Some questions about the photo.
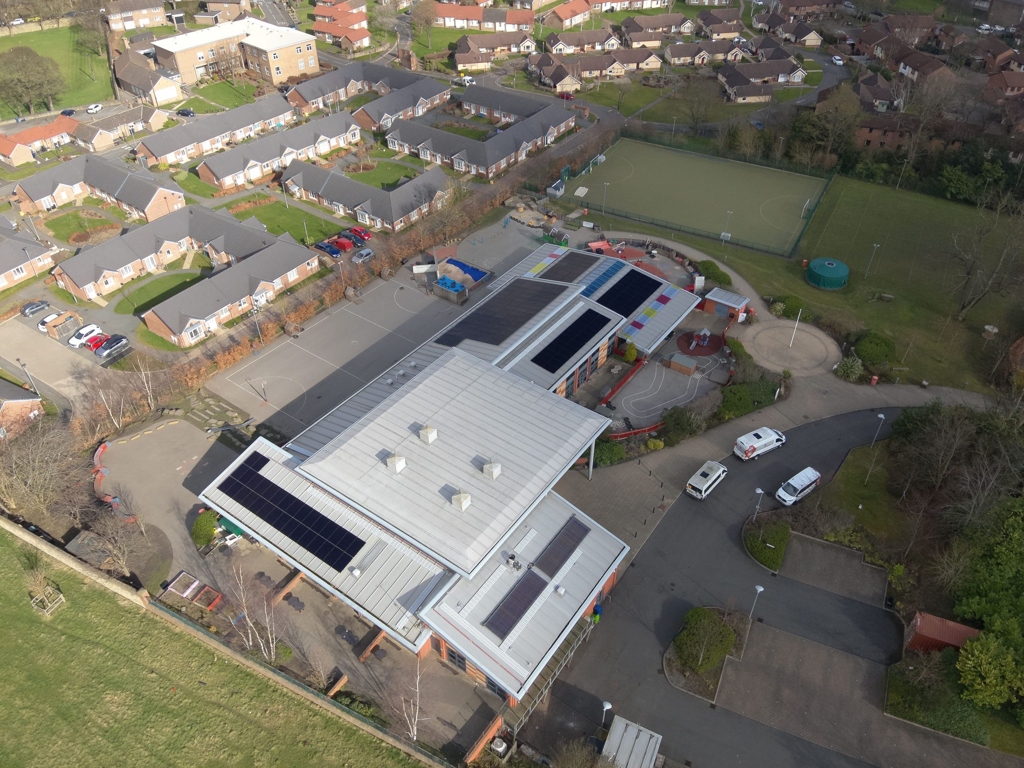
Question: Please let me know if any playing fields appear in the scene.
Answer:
Yes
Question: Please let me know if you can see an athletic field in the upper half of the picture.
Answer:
Yes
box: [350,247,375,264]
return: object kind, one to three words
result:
car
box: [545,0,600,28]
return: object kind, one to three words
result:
house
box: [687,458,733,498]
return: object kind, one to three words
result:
vehicle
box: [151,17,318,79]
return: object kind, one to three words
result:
building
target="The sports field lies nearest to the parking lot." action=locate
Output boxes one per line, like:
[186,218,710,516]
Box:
[547,111,1024,401]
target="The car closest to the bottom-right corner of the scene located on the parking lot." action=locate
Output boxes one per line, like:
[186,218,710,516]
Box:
[781,465,824,501]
